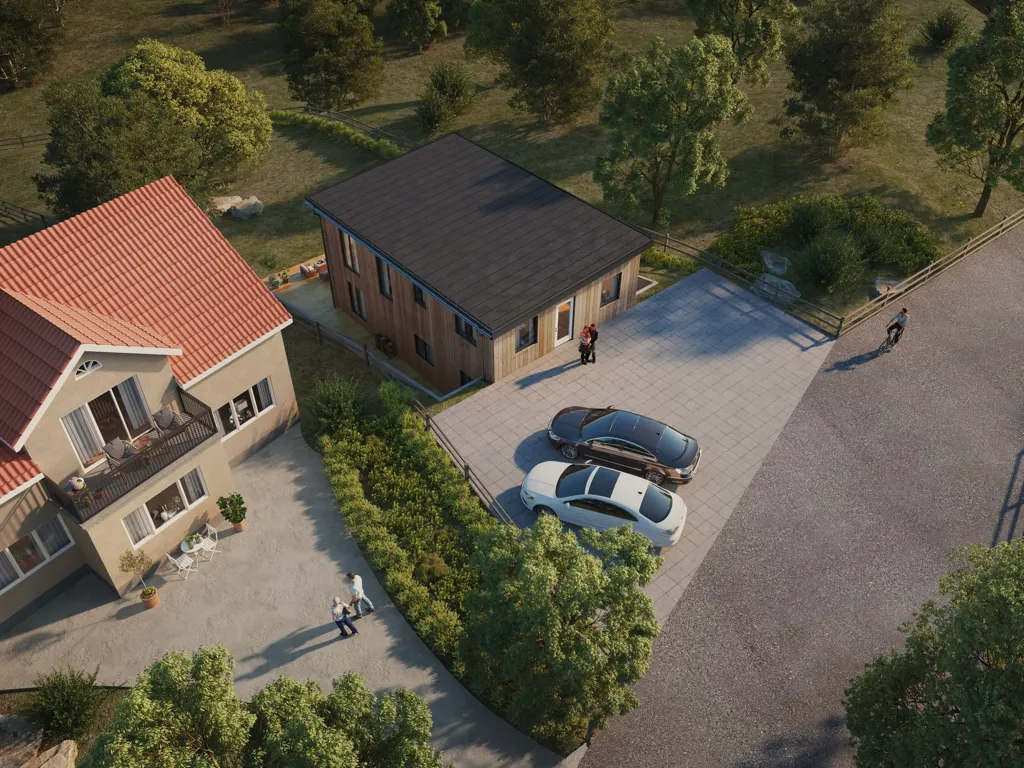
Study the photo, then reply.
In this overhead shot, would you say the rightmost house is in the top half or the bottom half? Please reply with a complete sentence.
You can find the rightmost house in the top half.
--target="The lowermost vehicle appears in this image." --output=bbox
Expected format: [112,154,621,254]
[518,455,684,544]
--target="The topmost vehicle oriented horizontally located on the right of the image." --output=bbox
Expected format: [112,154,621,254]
[546,404,702,487]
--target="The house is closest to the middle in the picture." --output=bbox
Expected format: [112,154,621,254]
[300,132,655,394]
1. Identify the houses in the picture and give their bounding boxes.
[0,175,301,623]
[300,132,655,394]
